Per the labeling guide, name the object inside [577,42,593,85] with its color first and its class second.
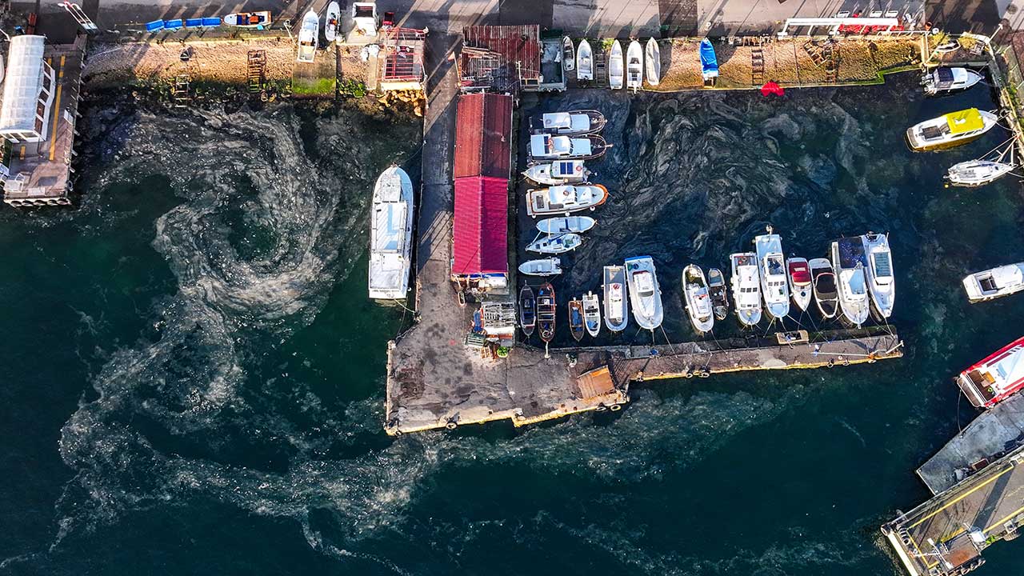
white boat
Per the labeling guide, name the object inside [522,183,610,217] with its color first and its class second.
white boat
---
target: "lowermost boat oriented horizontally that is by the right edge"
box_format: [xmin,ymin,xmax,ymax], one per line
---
[958,265,1024,302]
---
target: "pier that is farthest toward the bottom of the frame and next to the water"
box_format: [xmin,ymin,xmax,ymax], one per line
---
[876,448,1024,576]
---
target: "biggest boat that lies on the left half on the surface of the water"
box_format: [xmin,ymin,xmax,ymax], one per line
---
[368,164,417,305]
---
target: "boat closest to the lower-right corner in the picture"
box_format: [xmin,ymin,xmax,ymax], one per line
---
[955,336,1024,408]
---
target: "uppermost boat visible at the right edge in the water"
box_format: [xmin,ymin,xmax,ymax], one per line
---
[920,69,984,96]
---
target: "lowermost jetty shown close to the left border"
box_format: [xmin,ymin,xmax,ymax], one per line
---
[0,44,86,203]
